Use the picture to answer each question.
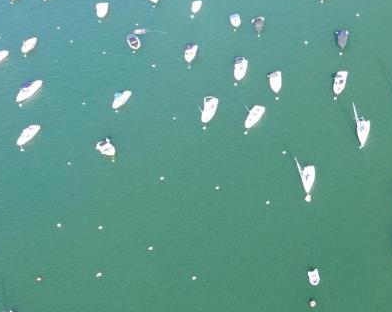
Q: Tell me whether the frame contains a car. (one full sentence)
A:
No, the picture doesn't show any car.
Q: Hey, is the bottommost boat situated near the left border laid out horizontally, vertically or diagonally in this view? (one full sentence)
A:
From this overhead view, the bottommost boat situated near the left border appears to run diagonally.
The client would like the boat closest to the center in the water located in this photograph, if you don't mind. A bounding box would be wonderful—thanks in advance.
[200,95,221,121]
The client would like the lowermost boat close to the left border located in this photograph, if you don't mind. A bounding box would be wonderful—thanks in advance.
[15,124,45,145]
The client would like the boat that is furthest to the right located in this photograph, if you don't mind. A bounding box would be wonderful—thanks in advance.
[353,108,370,146]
